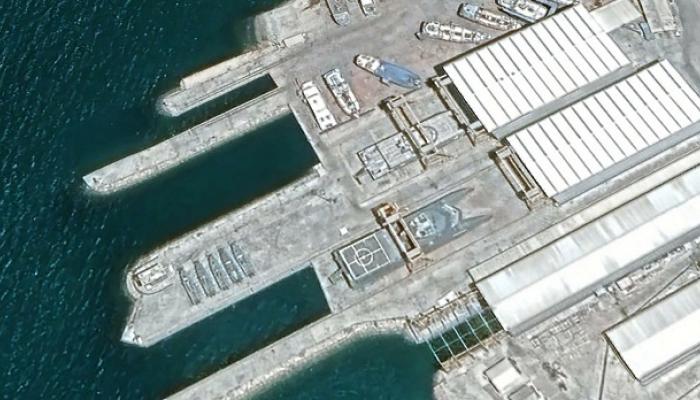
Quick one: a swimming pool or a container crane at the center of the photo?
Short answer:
container crane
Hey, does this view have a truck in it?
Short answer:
No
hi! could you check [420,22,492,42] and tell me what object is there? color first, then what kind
white ship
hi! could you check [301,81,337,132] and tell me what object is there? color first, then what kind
white ship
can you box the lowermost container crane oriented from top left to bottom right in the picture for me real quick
[375,201,426,267]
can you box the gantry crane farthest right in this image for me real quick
[496,144,548,204]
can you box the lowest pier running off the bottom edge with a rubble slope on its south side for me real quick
[165,313,336,400]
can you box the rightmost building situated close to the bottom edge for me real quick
[606,284,700,383]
